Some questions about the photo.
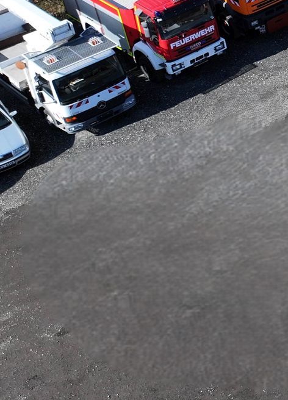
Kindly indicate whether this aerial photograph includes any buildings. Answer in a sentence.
No, the frame has no building in it.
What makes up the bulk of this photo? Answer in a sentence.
The largest share of the image is taken up by paved ground.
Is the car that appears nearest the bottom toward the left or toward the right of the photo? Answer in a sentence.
It is on the left.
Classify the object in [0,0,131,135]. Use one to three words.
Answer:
truck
